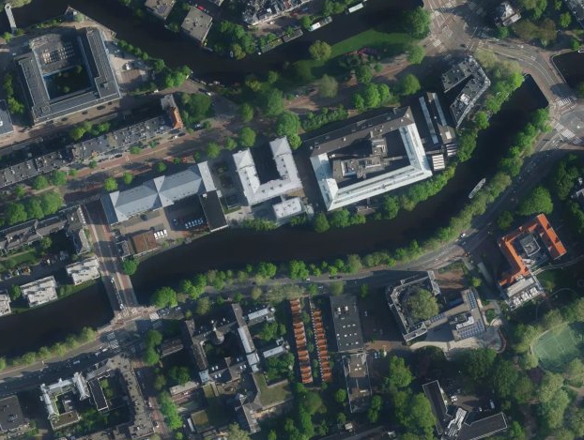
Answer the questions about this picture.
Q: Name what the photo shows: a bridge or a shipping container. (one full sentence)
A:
Looking from above, you can make out a bridge.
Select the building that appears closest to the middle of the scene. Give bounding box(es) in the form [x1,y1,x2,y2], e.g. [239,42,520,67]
[273,198,303,219]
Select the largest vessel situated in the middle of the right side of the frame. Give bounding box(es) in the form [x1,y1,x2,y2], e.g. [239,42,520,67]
[467,178,484,199]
